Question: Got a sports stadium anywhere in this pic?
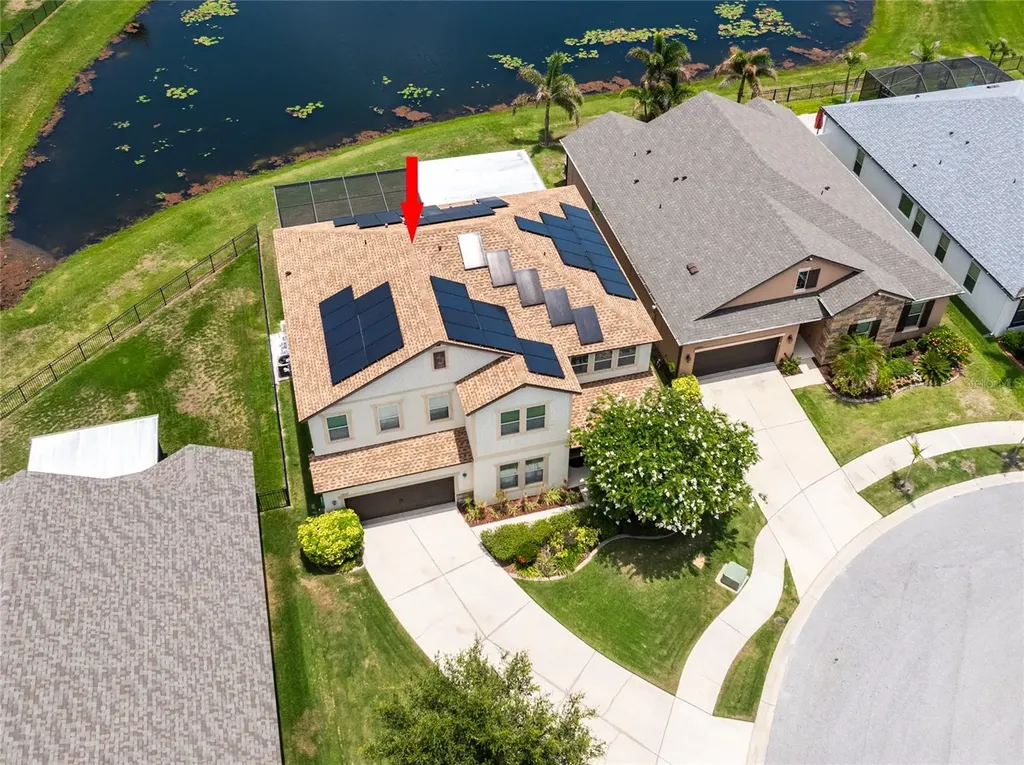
No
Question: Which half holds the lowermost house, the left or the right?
left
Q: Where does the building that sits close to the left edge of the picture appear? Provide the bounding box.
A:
[0,412,280,765]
